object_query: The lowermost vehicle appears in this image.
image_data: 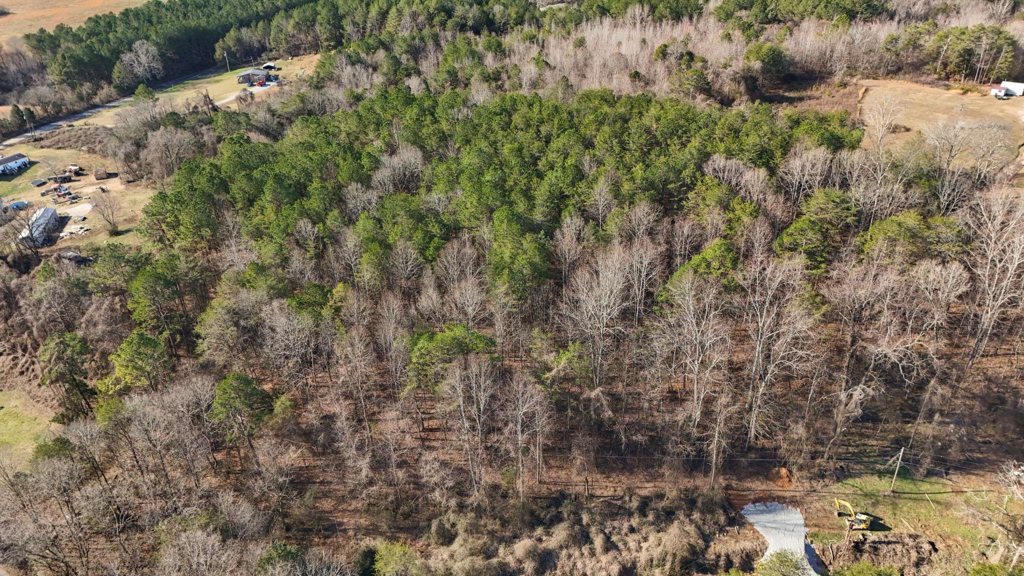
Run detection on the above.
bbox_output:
[834,498,874,532]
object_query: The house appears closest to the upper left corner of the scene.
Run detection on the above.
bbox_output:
[0,151,39,179]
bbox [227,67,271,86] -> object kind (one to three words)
house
